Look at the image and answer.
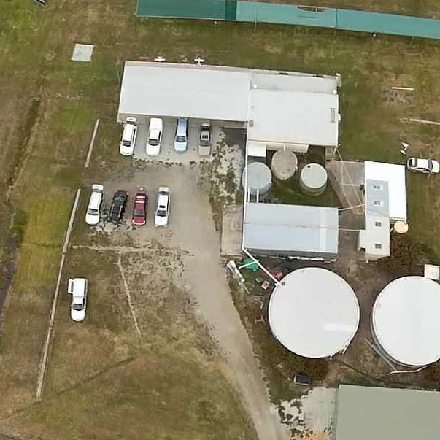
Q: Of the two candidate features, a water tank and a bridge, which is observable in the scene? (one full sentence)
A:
Visible in the photo is a water tank.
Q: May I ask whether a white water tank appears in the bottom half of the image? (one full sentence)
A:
Yes, a white water tank can be seen in the bottom half of the image.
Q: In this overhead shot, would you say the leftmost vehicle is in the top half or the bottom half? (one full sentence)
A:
The leftmost vehicle is in the bottom half of the image.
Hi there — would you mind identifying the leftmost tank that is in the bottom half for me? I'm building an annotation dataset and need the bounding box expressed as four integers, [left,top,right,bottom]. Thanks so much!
[268,268,359,360]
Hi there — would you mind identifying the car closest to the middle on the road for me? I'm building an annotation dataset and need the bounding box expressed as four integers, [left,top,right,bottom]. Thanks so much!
[153,187,171,228]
